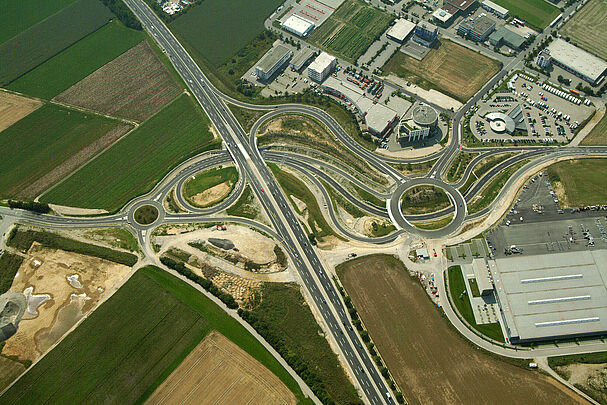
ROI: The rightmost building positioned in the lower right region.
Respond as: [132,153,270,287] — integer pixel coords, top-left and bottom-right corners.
[493,249,607,342]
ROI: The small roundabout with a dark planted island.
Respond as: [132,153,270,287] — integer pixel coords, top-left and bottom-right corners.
[128,200,165,229]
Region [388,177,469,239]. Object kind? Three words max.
roundabout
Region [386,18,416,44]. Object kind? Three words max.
building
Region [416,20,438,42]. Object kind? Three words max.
building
